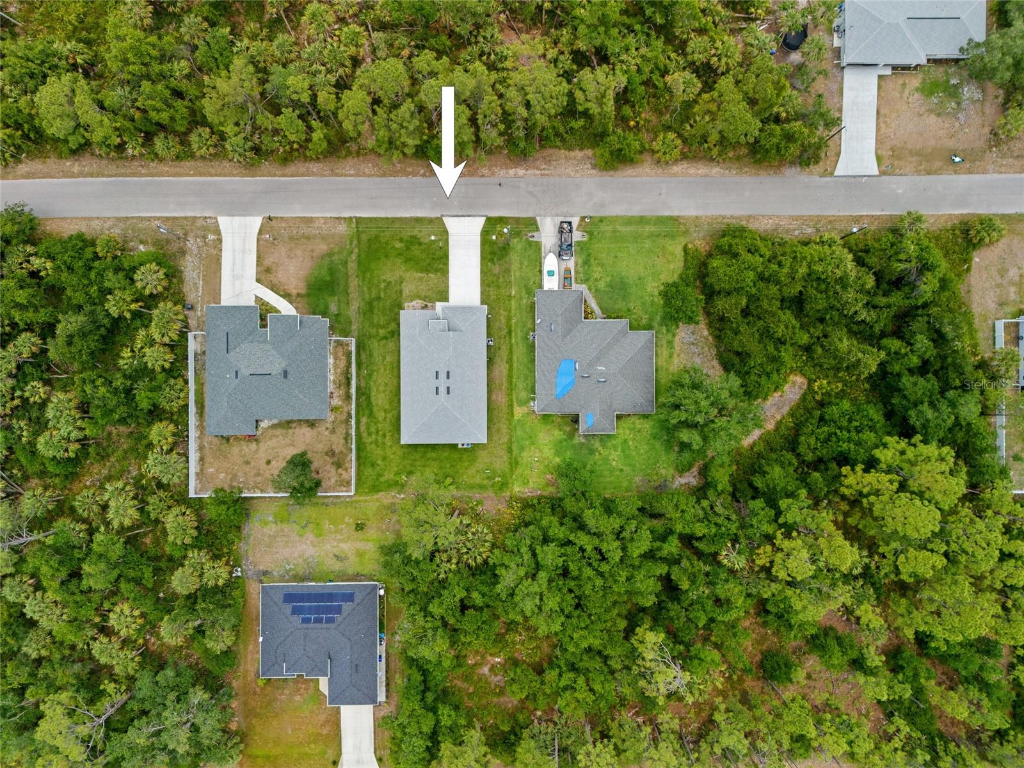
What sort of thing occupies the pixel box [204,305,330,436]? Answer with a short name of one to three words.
house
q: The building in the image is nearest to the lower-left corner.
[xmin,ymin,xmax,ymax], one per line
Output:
[260,581,379,707]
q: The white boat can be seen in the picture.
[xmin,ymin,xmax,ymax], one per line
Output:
[543,251,558,289]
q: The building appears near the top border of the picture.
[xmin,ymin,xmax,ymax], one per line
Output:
[839,0,986,70]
